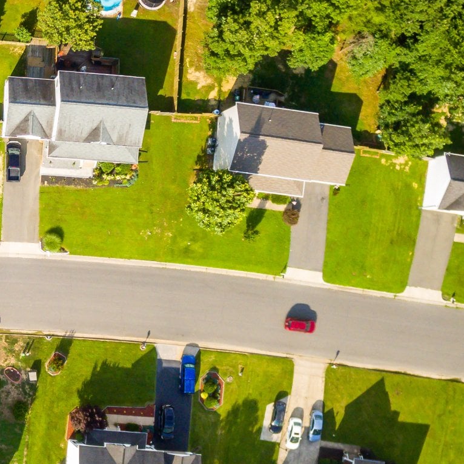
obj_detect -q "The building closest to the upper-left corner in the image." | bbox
[2,71,149,165]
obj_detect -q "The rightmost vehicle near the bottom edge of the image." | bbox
[309,411,328,444]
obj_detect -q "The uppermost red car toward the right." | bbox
[286,318,318,335]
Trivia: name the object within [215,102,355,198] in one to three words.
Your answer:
house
